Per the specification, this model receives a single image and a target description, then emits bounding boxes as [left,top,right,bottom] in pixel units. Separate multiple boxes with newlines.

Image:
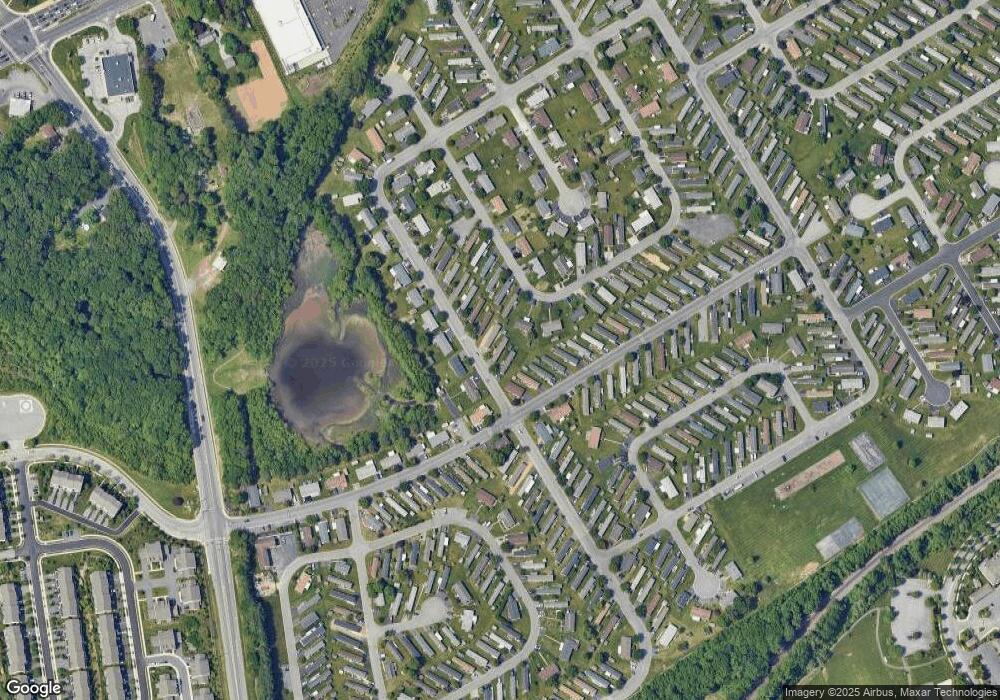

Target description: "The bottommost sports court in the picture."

[816,517,863,560]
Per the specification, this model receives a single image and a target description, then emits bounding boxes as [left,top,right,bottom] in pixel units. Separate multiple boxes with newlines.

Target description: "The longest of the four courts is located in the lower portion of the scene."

[775,450,845,500]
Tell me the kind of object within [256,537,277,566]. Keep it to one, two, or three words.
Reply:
building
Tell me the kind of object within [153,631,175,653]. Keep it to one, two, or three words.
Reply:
house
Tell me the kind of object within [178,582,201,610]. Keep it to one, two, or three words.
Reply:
house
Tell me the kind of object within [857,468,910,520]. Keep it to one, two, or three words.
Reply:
tennis court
